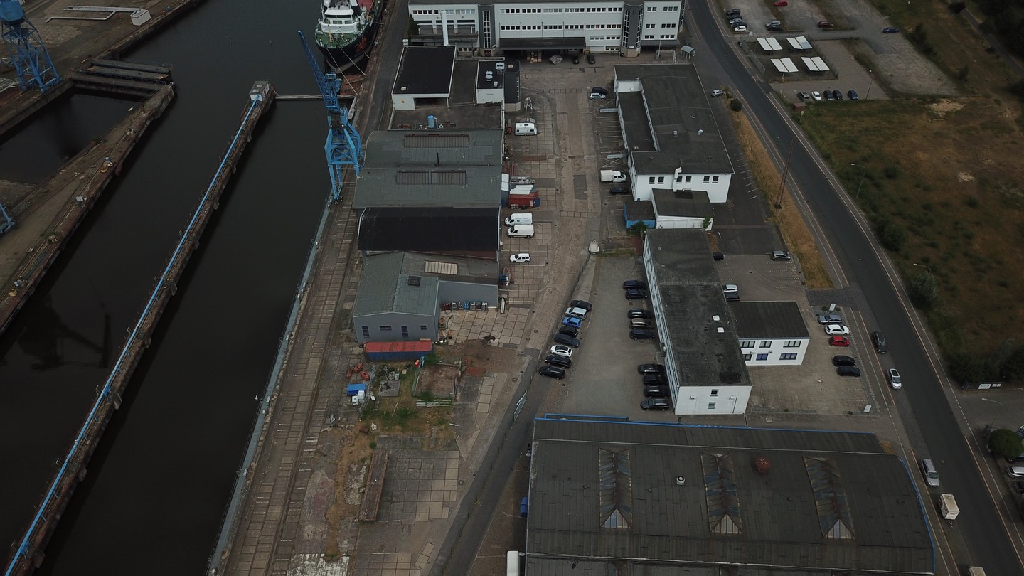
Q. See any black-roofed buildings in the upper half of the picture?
Yes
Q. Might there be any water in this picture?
Yes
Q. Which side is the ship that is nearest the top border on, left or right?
left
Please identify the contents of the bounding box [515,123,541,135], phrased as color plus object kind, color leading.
white vehicle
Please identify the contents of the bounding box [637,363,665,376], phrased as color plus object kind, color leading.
black vehicle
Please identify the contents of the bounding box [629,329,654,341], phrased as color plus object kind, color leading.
black vehicle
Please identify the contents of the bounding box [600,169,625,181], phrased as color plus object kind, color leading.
white vehicle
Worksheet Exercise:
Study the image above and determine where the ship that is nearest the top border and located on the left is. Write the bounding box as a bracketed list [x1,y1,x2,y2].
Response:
[315,0,385,71]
